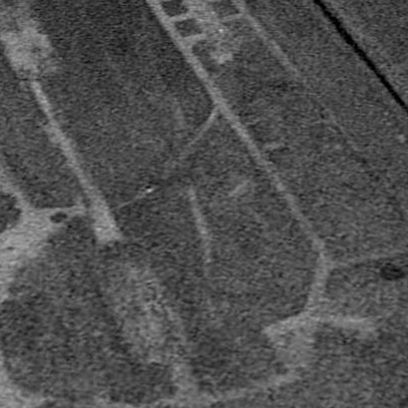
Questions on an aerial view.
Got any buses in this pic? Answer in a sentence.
No, the frame has no bus in it.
